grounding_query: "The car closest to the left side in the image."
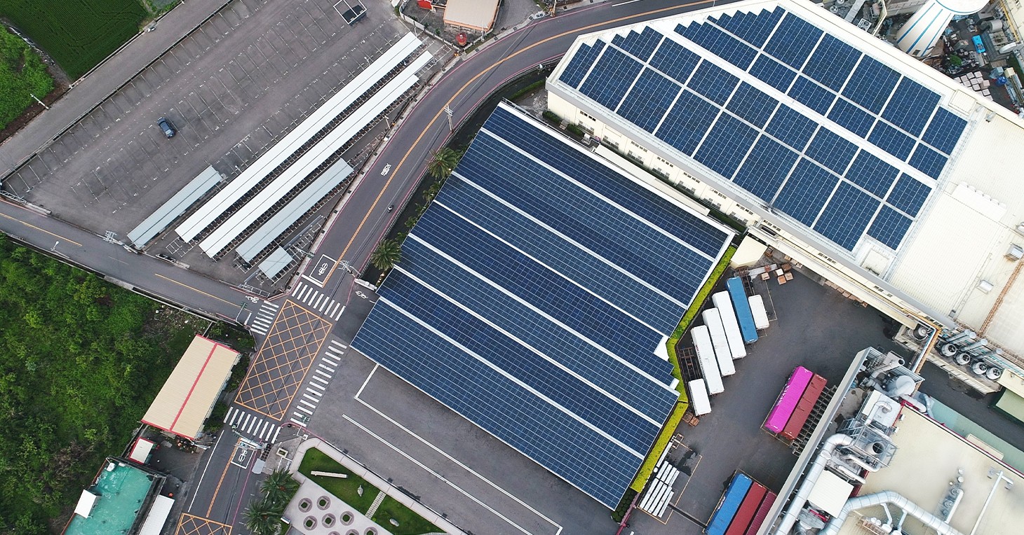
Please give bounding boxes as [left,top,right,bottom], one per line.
[156,116,174,137]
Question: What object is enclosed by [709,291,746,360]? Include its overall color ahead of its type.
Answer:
white trailer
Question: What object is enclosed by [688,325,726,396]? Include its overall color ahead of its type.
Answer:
white trailer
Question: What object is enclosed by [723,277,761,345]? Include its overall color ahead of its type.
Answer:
blue trailer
